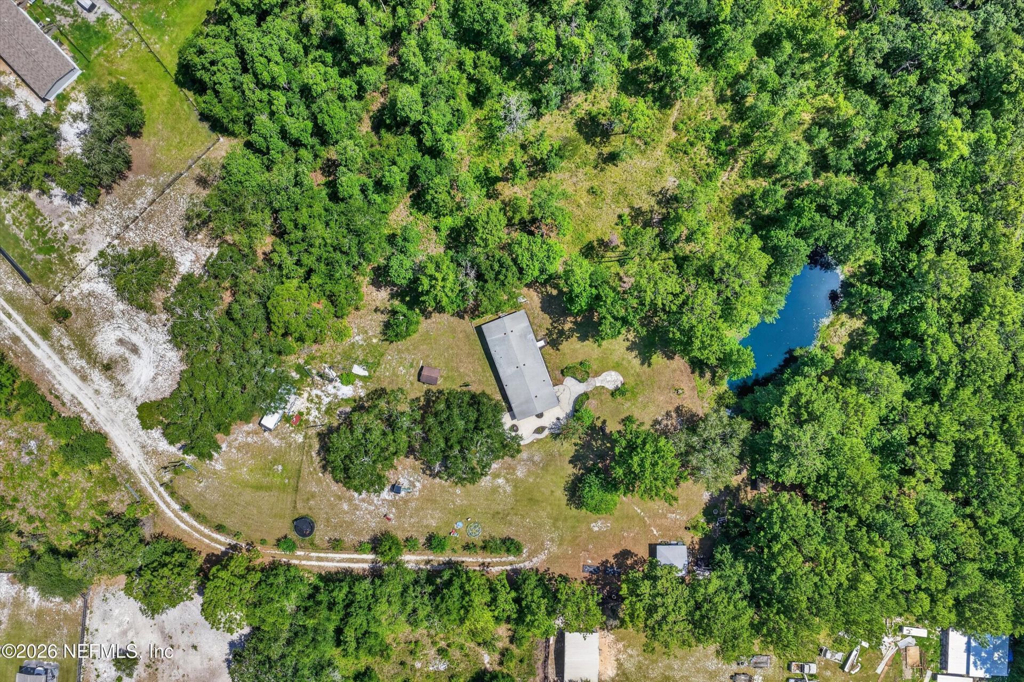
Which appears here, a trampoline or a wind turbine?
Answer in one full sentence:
The image shows a trampoline.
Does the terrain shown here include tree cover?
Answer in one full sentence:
Yes, tree cover shows up in the scene.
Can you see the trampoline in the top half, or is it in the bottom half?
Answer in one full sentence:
The trampoline is in the bottom half of the image.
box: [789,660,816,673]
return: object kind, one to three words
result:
vehicle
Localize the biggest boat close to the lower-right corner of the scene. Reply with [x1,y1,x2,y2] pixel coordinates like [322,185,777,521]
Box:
[842,644,860,674]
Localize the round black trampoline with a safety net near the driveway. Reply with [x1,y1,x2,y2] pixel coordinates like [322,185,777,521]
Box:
[292,515,316,540]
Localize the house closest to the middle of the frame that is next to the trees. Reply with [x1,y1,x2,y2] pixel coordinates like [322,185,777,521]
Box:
[482,310,560,420]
